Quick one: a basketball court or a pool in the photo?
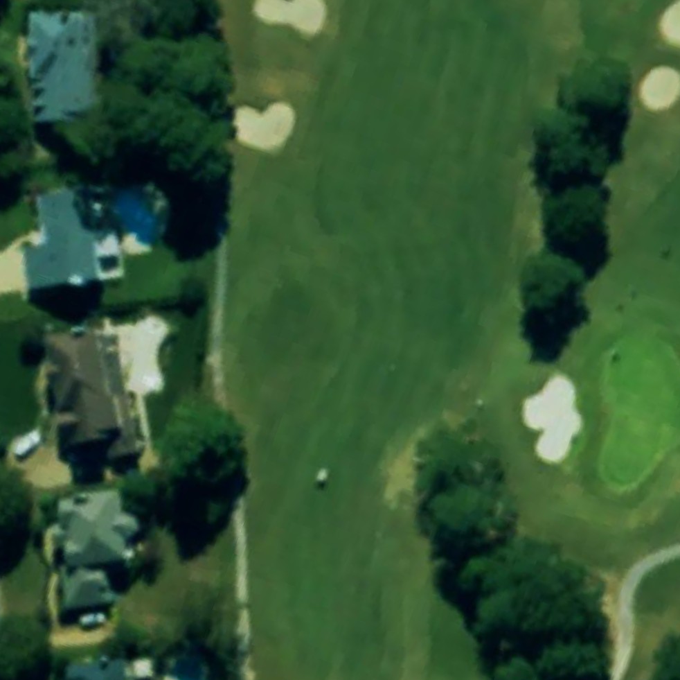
pool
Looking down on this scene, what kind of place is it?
golf course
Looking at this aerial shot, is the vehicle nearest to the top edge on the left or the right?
left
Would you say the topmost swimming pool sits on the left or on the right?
left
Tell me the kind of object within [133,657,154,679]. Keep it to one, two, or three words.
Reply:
building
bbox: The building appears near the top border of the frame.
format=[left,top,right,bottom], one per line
[25,12,96,121]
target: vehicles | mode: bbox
[13,430,40,457]
[79,614,105,627]
[316,469,326,483]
